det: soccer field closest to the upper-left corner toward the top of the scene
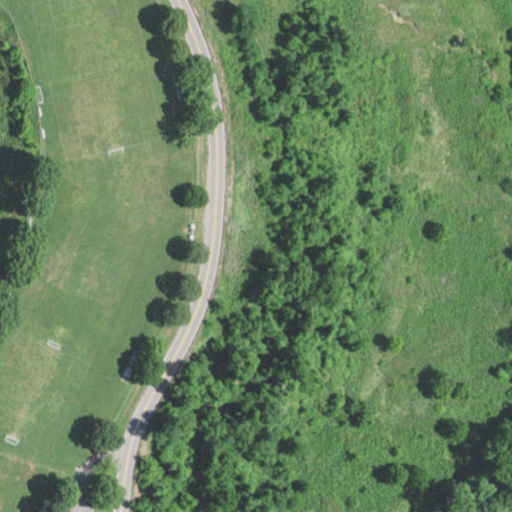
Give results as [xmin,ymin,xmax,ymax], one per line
[30,0,166,162]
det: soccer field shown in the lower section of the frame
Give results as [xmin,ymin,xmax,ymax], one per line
[0,328,92,457]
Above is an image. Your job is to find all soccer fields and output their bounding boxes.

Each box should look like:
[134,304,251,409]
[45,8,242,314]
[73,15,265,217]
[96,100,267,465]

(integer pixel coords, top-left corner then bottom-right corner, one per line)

[30,0,166,162]
[0,328,92,457]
